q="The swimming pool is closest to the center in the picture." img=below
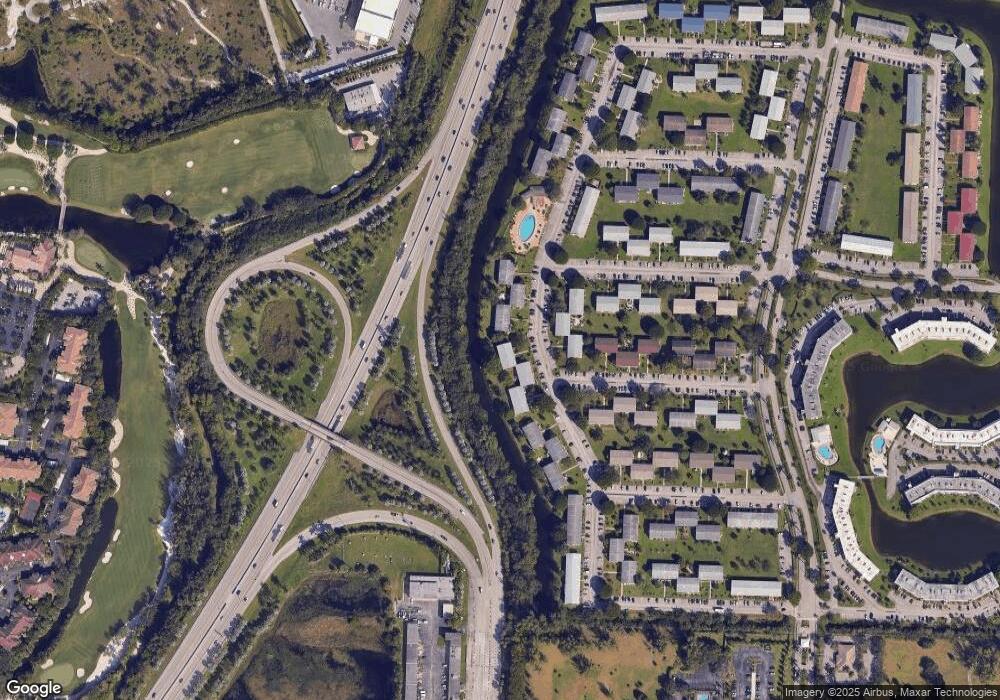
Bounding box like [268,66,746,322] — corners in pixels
[510,198,551,252]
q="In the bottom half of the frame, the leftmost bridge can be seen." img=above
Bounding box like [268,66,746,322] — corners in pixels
[275,404,378,465]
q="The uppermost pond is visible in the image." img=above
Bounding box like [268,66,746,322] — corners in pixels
[0,49,52,105]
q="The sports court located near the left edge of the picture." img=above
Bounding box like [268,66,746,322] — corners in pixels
[20,491,41,522]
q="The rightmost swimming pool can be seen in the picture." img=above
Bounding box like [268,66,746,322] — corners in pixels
[869,429,891,469]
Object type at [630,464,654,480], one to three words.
building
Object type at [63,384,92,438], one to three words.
house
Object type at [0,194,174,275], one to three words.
pond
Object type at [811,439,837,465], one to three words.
swimming pool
